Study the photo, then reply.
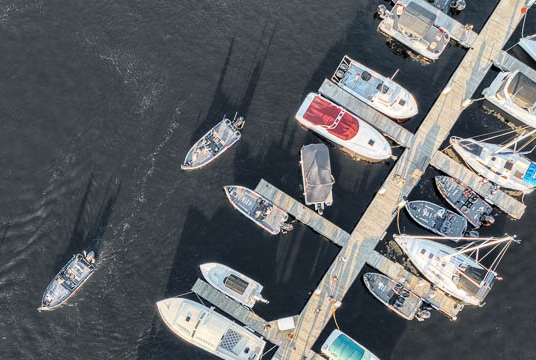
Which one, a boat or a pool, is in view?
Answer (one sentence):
Visible in the photo is a boat.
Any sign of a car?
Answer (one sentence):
No, the photo shows no car.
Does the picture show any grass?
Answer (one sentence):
No, there is no grass in the image.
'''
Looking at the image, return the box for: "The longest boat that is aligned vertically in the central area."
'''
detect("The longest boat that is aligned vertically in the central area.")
[300,143,333,213]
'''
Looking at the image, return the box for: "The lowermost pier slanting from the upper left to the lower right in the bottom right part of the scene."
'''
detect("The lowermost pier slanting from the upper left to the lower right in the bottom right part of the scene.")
[365,249,463,320]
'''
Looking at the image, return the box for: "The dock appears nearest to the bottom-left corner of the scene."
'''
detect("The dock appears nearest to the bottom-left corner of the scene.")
[191,277,286,344]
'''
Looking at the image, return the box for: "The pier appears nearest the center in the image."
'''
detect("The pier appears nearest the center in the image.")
[254,177,349,246]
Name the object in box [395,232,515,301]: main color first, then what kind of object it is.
white boat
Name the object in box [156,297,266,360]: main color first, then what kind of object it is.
white boat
